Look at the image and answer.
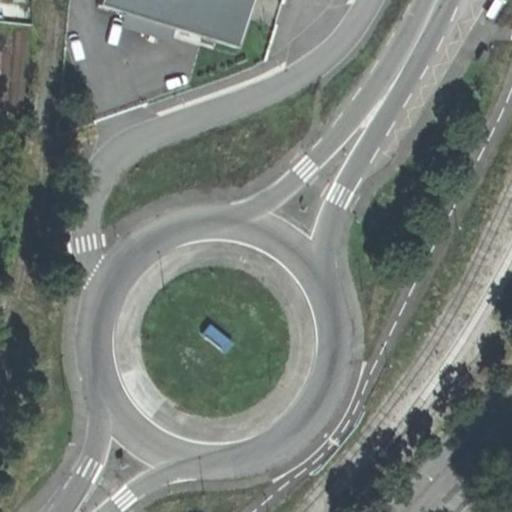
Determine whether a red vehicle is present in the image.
No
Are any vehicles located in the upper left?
Yes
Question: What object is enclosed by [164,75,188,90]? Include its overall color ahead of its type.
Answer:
white vehicle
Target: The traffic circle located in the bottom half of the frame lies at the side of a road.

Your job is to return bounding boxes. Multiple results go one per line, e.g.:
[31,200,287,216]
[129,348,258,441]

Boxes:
[78,203,354,480]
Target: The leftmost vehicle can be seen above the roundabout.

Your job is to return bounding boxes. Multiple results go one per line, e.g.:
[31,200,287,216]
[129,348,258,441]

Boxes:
[68,32,84,63]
